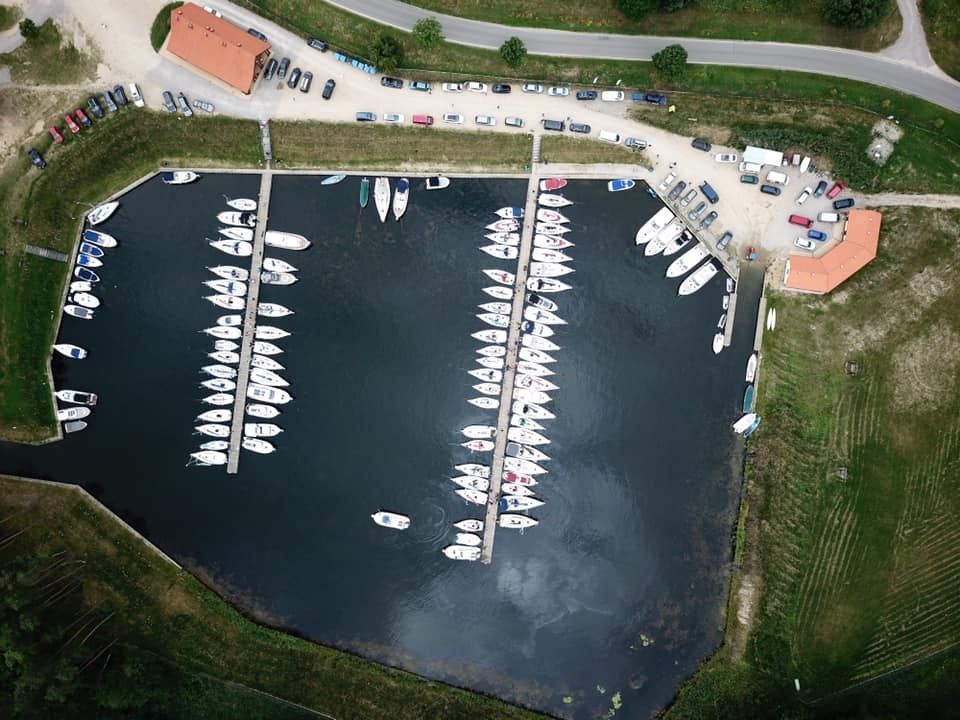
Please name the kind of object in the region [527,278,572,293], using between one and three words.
boat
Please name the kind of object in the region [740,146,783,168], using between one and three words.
tent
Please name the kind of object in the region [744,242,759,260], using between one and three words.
work vehicle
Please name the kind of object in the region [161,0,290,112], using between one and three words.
building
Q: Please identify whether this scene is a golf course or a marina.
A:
marina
